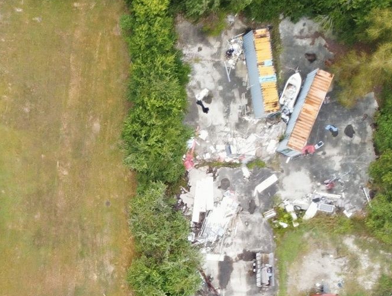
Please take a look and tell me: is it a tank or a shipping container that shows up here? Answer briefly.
shipping container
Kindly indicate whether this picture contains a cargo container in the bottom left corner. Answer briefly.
No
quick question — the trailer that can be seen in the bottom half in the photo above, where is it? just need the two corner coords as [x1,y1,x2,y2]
[251,252,274,289]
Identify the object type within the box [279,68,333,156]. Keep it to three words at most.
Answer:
shipping container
